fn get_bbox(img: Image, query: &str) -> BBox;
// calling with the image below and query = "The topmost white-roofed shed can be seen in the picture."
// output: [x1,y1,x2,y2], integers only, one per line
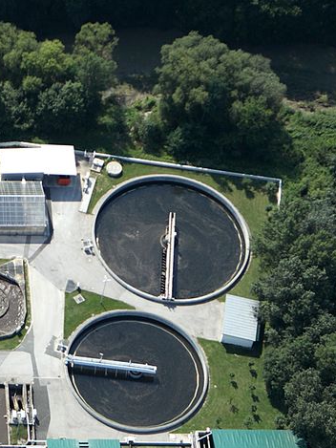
[0,145,76,186]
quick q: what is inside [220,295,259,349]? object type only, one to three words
building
